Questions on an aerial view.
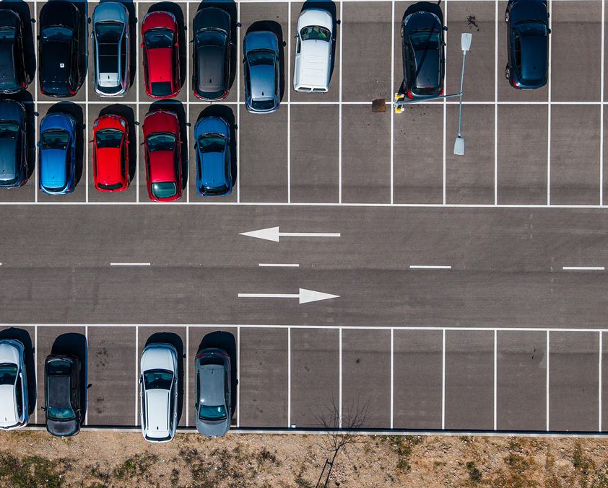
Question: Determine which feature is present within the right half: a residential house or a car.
car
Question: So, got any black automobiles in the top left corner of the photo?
Yes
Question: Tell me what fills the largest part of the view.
paved ground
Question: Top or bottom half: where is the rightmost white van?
top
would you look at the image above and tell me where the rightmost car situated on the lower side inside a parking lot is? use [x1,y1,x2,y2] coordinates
[188,347,236,436]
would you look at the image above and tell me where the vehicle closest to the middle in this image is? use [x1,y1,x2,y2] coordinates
[191,116,238,196]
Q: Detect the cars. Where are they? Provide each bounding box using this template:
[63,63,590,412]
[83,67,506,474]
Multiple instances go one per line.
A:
[188,8,235,100]
[188,347,236,436]
[34,2,82,98]
[88,115,133,192]
[86,3,134,98]
[0,338,30,431]
[0,10,29,94]
[504,0,556,90]
[400,12,449,98]
[33,113,79,195]
[0,99,30,188]
[135,341,182,443]
[140,110,186,201]
[138,12,184,98]
[37,355,83,436]
[238,32,284,114]
[191,116,238,196]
